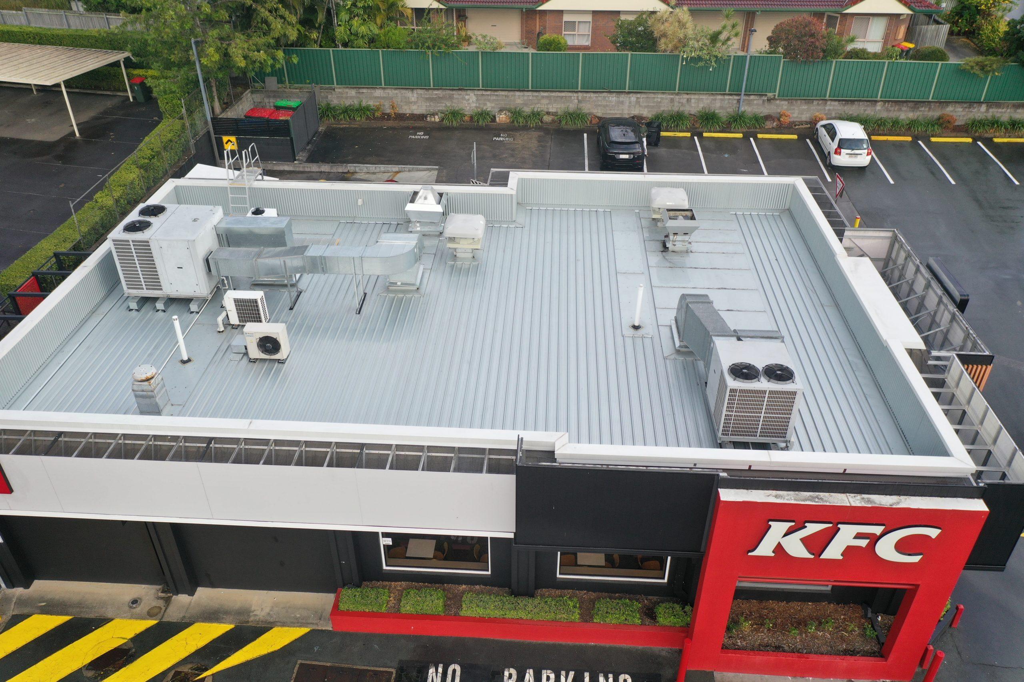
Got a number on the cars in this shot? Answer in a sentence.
In total, there are 2 cars in the scene.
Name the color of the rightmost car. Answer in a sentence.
The rightmost car looks white in the image.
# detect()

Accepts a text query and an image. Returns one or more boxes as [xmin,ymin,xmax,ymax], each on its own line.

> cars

[598,116,668,169]
[817,122,875,170]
